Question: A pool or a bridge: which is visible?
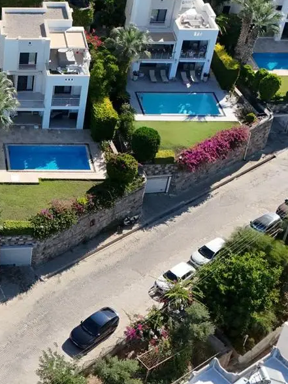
pool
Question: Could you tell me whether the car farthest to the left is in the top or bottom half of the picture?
bottom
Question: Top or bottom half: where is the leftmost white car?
bottom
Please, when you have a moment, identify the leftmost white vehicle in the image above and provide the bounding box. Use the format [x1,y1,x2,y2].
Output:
[152,260,198,295]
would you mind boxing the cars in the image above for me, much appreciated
[186,240,225,271]
[152,260,198,295]
[244,211,287,239]
[66,310,116,351]
[273,200,288,223]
